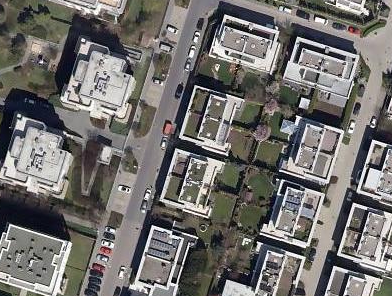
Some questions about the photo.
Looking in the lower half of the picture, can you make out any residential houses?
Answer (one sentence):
Yes, looking in the lower half of the picture, one can make out a residential house.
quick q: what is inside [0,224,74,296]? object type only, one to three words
building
